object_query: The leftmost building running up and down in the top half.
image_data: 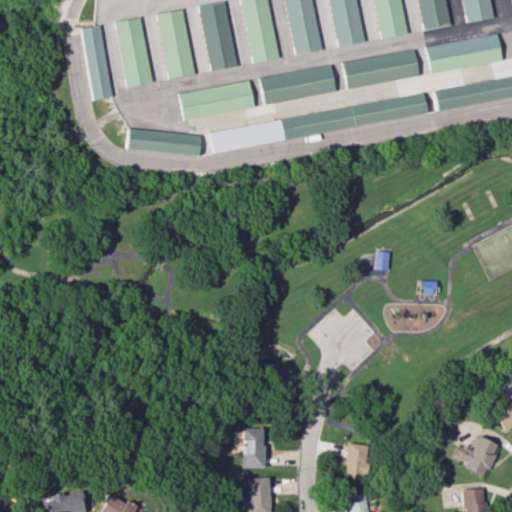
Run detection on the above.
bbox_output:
[82,25,114,100]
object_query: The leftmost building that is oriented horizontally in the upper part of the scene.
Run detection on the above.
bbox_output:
[128,129,202,155]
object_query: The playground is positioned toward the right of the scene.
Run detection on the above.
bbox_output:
[383,303,444,333]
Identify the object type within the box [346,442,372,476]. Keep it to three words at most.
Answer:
house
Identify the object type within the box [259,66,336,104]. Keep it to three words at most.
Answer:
building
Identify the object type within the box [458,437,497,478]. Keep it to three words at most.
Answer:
house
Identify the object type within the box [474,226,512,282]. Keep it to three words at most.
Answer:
sports court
